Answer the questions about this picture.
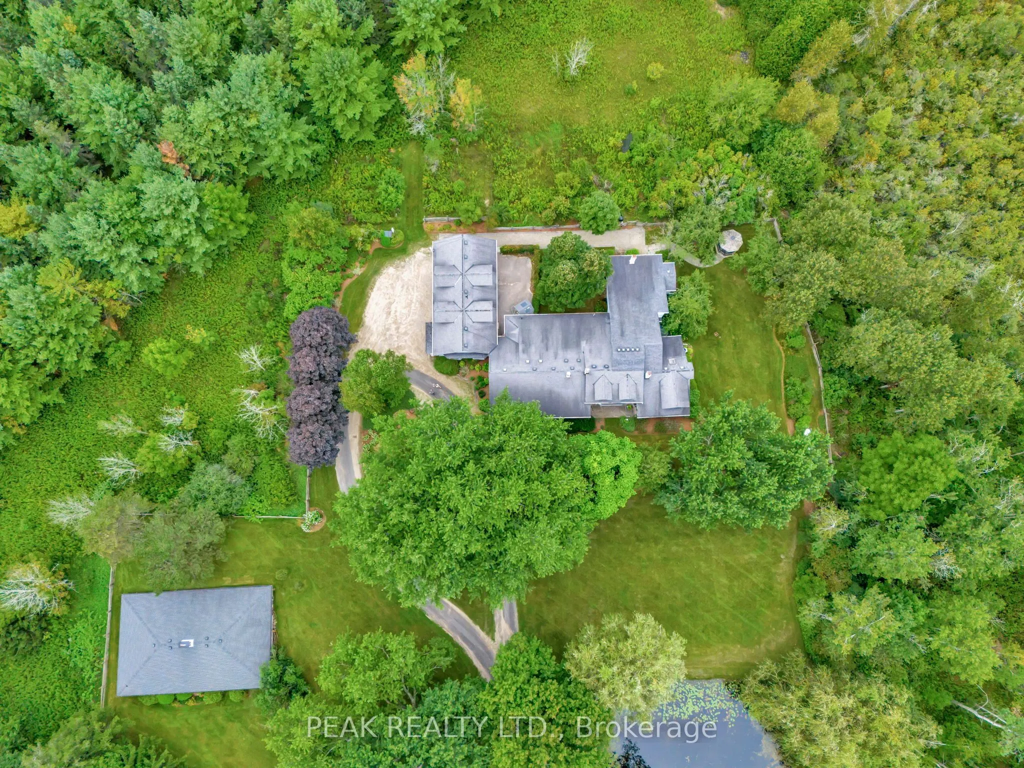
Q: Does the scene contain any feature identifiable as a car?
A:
No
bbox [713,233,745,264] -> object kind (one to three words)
gazebo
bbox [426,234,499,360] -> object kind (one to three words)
building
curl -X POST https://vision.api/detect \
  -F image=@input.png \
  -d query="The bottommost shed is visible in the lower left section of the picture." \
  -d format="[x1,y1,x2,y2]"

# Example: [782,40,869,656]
[116,585,277,697]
